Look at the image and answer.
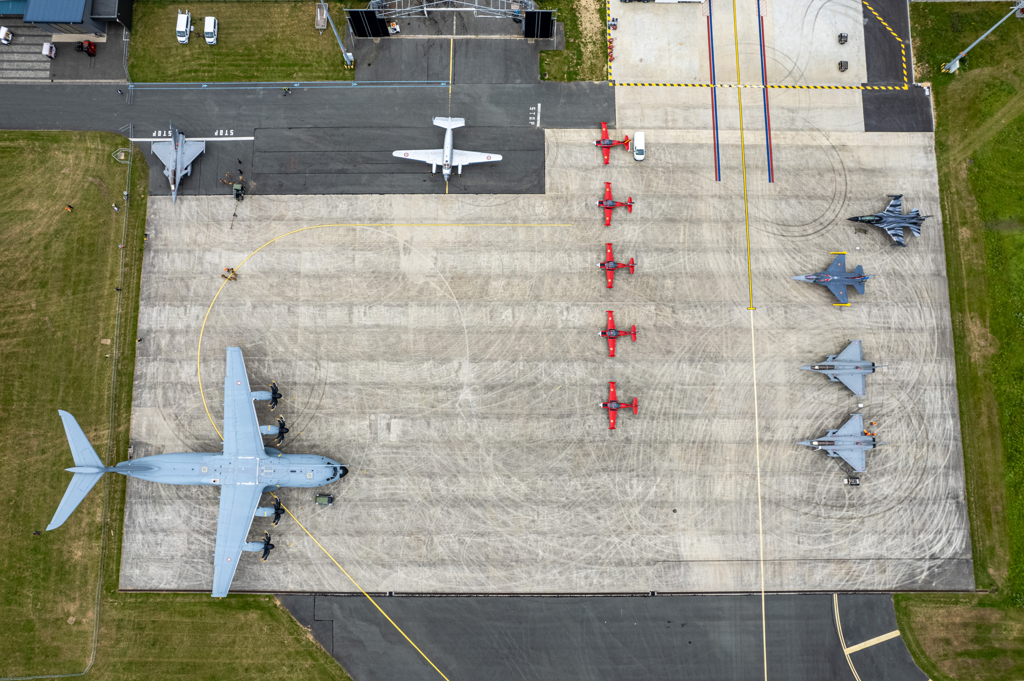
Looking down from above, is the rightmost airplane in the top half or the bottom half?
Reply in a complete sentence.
The top half of the photo is where the rightmost airplane is.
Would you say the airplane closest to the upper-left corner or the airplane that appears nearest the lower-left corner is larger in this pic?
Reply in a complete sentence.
Of the two, the airplane that appears nearest the lower-left corner is larger and the airplane closest to the upper-left corner is the smaller one.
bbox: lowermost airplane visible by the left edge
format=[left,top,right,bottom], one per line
[45,347,348,599]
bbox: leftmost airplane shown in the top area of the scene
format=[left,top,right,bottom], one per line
[152,119,207,202]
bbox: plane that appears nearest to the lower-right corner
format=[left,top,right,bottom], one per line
[796,414,889,472]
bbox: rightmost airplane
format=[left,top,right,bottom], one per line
[849,195,935,248]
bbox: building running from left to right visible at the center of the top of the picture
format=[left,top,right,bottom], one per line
[344,0,560,51]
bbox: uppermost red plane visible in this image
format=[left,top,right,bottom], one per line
[593,122,631,165]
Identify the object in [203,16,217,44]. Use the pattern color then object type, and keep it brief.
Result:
white vehicle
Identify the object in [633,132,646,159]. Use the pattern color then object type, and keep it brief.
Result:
white vehicle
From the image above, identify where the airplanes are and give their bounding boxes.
[595,182,635,226]
[593,122,631,165]
[796,414,889,472]
[597,243,637,288]
[599,382,639,430]
[792,252,874,306]
[849,195,935,248]
[393,112,502,182]
[598,311,639,357]
[45,347,348,599]
[797,340,887,396]
[152,119,207,202]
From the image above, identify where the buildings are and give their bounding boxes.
[344,0,560,51]
[23,0,107,33]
